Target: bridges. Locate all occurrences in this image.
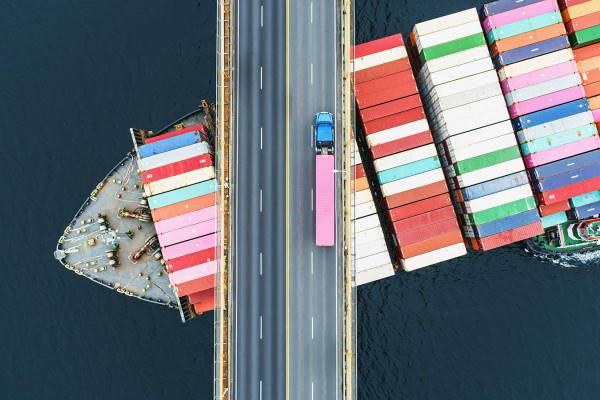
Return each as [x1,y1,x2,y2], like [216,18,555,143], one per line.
[215,0,356,400]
